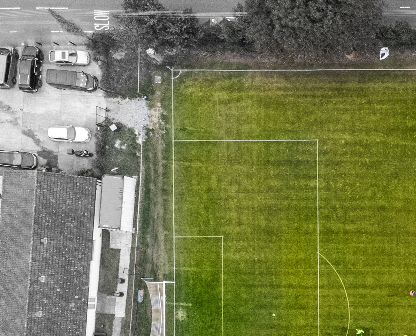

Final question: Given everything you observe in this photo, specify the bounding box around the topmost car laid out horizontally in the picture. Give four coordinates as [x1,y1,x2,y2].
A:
[49,46,91,65]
